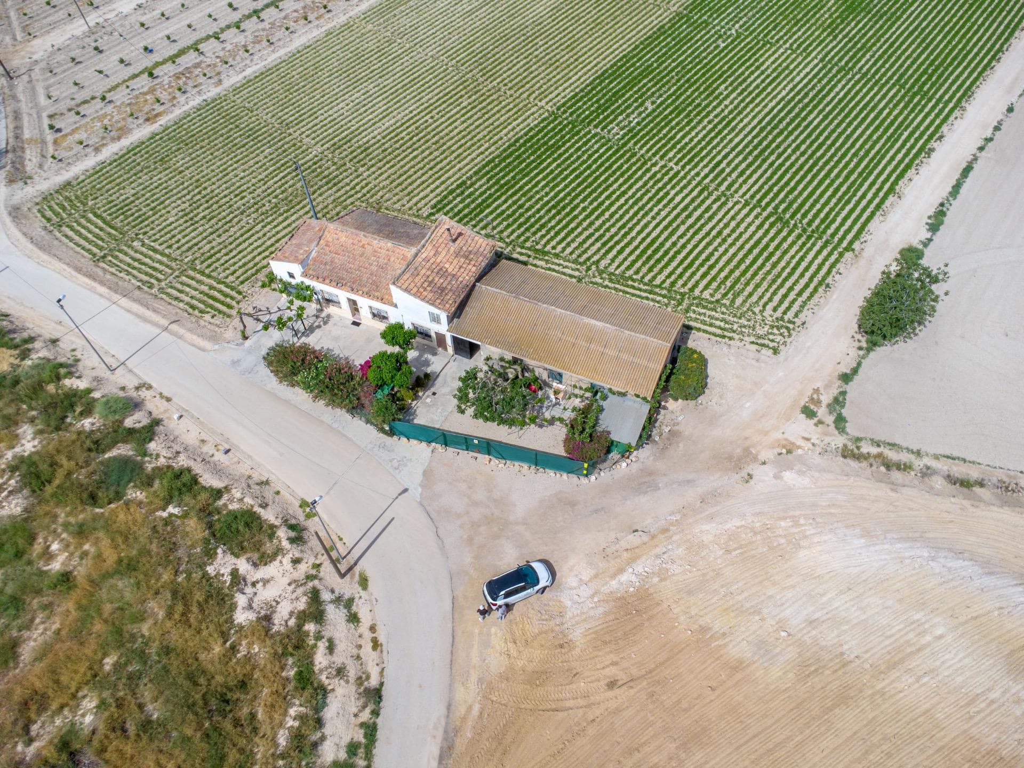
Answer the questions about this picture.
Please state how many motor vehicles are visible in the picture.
1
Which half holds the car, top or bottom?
bottom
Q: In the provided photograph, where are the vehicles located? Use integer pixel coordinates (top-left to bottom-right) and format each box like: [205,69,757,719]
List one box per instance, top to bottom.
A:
[482,563,553,612]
